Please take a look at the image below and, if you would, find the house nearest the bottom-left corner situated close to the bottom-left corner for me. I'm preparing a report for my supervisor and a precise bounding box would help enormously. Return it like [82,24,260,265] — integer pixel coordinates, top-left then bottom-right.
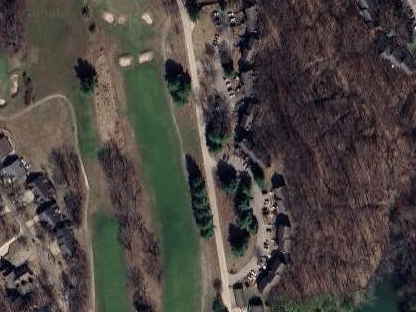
[1,269,34,291]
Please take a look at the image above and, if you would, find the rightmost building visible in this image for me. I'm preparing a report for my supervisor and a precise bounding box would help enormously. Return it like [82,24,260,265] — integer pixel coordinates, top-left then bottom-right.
[382,48,412,77]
